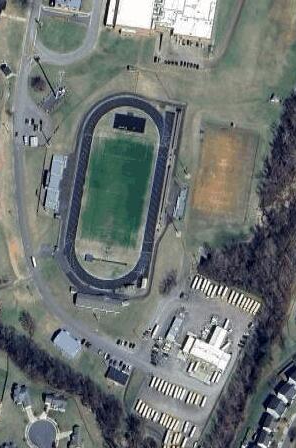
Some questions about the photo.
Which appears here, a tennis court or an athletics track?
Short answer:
athletics track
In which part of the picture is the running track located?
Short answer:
center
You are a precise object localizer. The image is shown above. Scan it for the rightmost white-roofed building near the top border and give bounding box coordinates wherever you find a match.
[158,0,215,42]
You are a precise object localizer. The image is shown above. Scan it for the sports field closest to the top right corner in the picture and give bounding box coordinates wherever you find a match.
[190,126,252,219]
